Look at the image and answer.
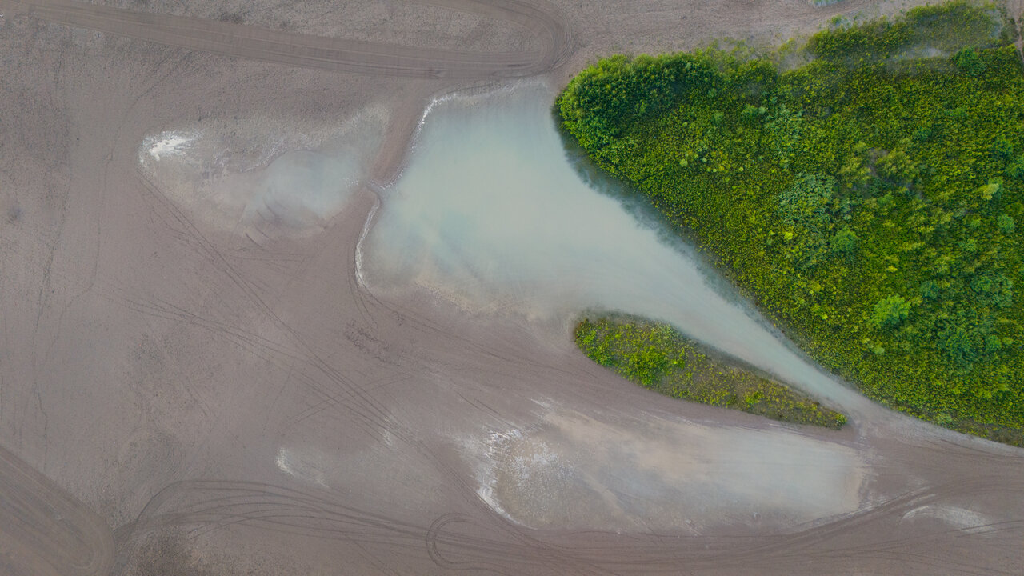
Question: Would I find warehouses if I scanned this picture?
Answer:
No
